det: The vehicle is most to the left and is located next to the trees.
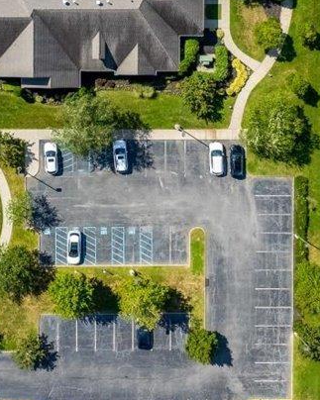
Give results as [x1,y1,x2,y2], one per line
[43,140,57,174]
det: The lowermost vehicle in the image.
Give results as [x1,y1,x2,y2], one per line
[137,320,152,352]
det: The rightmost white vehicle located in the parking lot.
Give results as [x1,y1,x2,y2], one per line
[210,143,223,175]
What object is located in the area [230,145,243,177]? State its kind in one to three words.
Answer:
vehicle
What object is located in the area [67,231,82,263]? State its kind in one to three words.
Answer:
car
